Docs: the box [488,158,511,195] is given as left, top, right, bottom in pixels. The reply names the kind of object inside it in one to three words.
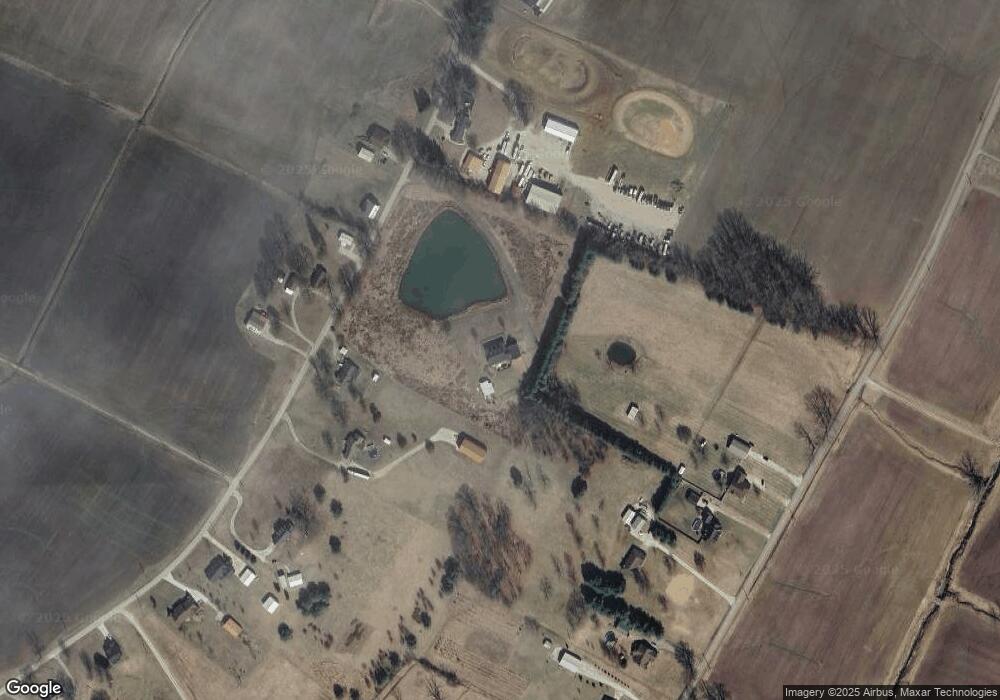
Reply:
barn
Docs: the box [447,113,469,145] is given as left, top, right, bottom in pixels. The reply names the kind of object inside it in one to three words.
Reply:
house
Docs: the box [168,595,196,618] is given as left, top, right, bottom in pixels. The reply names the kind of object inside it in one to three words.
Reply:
house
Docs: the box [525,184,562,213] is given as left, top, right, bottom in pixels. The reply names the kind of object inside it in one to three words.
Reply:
barn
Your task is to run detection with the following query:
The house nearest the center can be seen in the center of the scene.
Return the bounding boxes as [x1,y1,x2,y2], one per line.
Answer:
[481,338,520,366]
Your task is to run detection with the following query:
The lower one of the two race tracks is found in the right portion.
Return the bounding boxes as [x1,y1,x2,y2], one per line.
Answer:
[614,89,695,161]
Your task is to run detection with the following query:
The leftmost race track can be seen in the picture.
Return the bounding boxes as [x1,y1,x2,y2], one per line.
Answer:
[497,24,598,109]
